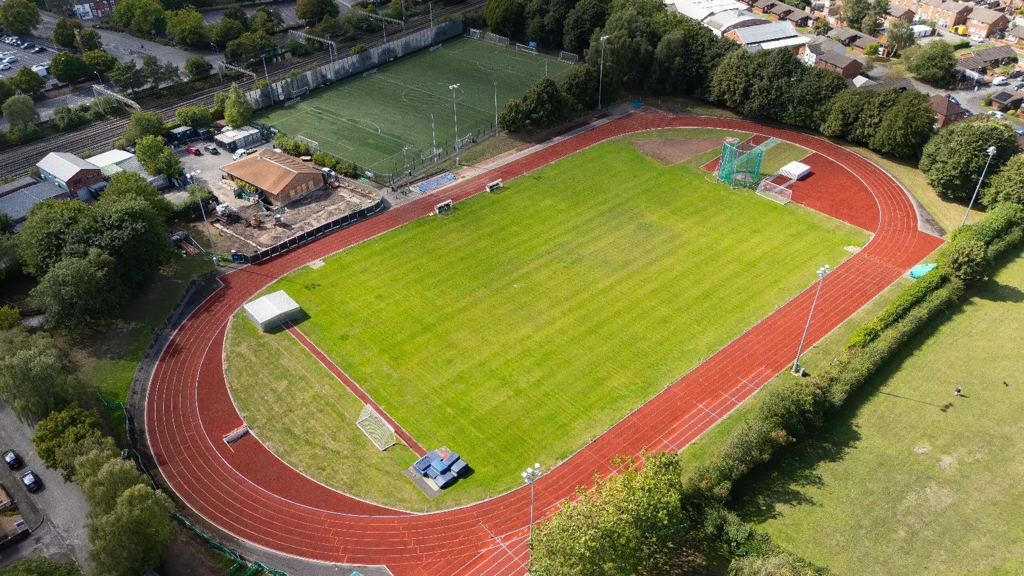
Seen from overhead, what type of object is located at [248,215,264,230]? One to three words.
vehicle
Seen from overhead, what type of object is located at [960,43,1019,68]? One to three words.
house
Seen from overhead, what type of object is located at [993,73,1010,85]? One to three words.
vehicle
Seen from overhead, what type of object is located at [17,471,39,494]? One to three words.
car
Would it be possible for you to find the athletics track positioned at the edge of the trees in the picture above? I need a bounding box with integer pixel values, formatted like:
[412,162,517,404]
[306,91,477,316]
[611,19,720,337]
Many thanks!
[146,116,917,565]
